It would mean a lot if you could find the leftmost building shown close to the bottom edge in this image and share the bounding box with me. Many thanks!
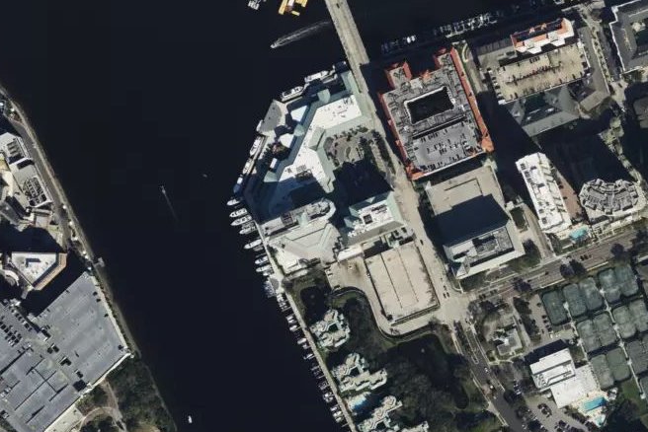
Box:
[0,271,132,432]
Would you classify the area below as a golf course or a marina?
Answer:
marina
